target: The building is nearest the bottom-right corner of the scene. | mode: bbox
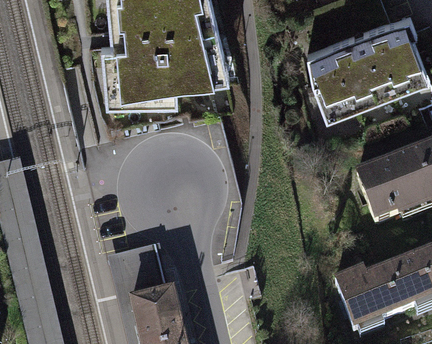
[335,242,432,340]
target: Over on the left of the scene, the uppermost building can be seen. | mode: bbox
[102,0,237,115]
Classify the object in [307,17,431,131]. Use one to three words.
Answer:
house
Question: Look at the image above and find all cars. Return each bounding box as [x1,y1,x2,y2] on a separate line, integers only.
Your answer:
[95,202,118,215]
[102,225,125,237]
